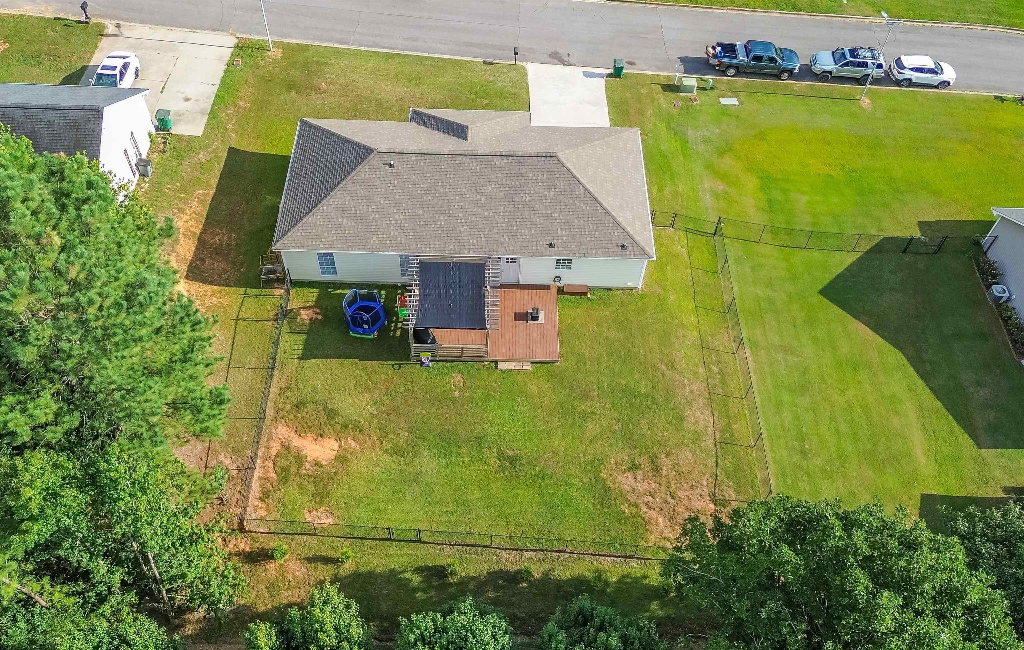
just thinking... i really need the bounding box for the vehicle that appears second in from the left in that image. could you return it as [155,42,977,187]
[706,42,802,81]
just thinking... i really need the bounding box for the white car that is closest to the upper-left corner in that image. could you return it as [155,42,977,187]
[91,51,138,88]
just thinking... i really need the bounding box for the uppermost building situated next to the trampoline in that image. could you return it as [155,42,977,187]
[270,107,656,290]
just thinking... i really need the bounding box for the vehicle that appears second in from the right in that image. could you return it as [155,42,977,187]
[808,46,884,85]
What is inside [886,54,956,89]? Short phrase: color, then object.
white car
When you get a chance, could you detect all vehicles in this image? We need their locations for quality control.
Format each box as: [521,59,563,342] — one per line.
[91,51,138,88]
[808,46,884,85]
[886,54,956,89]
[706,42,802,81]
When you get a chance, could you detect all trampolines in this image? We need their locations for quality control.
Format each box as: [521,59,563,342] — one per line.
[344,290,388,340]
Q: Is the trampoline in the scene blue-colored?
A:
Yes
